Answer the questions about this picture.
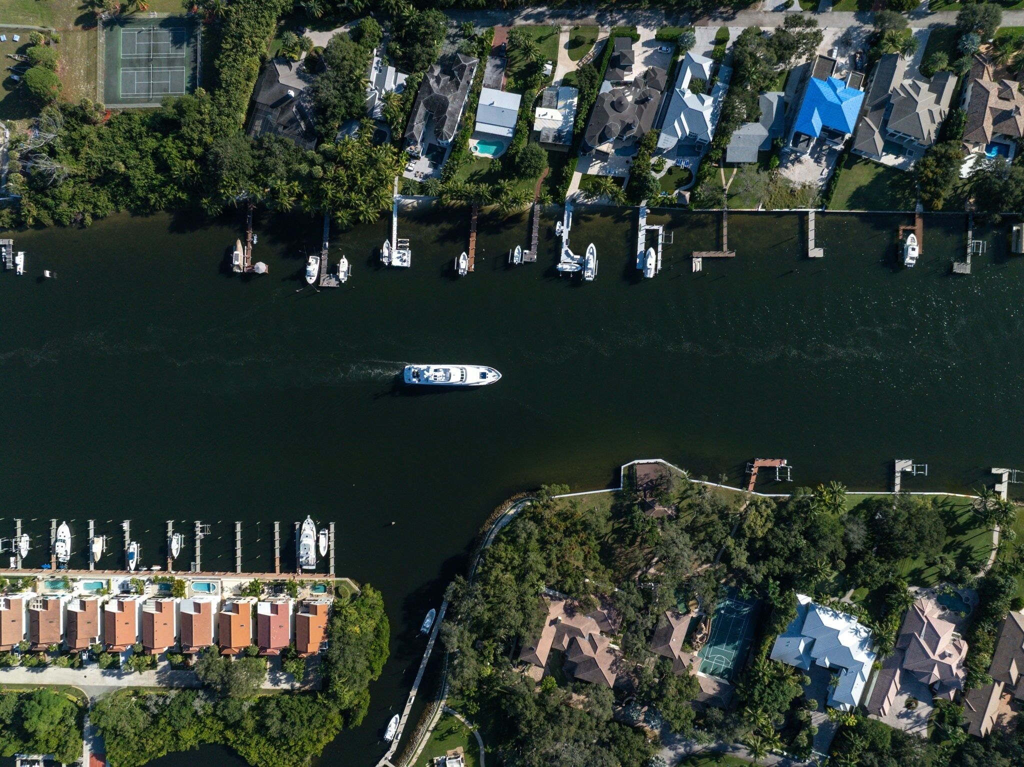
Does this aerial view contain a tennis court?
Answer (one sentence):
Yes, the image includes a tennis court.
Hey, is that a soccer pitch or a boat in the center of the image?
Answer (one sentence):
You can see a boat in the center of the image.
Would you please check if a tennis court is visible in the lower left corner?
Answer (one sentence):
No, no tennis court can be made out in the lower left corner.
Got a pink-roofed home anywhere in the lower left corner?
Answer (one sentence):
Yes, in the lower left corner there is a pink-roofed home.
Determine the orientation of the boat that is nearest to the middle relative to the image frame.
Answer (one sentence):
In this picture, the boat that is nearest to the middle lies from side to side.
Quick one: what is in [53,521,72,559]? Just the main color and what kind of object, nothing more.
white boat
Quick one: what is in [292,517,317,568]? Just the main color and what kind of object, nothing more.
white boat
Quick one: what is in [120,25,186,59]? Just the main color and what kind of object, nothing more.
gray tennis court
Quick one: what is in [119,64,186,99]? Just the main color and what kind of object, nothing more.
gray tennis court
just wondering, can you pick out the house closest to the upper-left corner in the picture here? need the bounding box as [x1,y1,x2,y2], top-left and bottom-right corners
[257,60,317,137]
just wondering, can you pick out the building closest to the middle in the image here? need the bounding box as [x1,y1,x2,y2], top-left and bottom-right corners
[643,498,677,519]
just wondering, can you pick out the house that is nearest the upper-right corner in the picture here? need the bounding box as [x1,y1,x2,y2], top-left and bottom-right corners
[954,54,1024,155]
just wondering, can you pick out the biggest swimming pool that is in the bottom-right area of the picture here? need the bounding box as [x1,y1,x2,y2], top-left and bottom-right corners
[936,590,972,615]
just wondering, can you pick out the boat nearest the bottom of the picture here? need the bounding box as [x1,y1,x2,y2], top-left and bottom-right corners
[385,714,399,743]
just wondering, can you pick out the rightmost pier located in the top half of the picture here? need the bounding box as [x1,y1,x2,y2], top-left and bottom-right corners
[951,212,975,274]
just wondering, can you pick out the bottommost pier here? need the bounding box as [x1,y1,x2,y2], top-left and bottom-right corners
[372,581,447,767]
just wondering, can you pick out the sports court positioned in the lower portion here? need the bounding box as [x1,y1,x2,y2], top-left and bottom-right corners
[698,591,758,685]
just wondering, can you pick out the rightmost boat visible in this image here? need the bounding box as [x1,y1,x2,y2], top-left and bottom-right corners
[901,232,920,267]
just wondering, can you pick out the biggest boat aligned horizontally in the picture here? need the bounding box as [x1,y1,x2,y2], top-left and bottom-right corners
[404,365,502,385]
